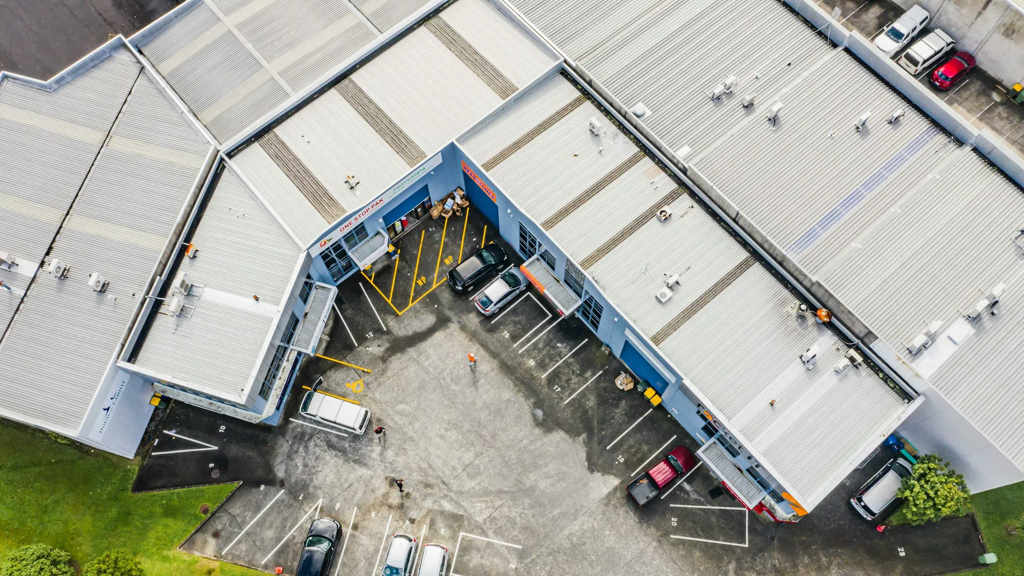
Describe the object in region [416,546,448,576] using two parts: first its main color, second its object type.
white car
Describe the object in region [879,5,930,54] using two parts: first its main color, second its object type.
white truck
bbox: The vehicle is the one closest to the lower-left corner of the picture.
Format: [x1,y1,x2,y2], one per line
[295,516,342,576]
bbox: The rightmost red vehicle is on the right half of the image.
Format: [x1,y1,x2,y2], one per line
[931,54,973,89]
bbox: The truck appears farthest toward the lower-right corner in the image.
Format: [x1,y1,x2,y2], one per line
[625,449,697,509]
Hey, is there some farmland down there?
No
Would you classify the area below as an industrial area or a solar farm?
industrial area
